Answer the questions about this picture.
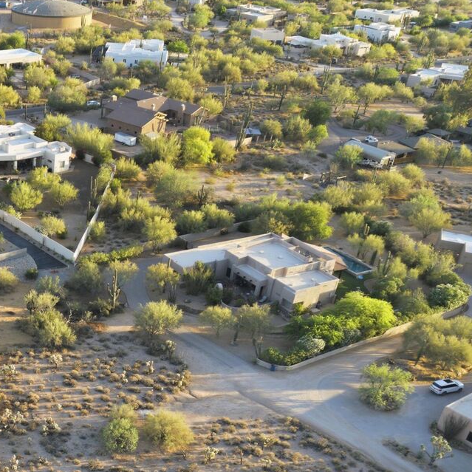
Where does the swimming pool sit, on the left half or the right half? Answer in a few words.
right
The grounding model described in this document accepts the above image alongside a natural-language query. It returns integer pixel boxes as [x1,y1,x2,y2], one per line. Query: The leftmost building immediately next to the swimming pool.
[162,232,346,315]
